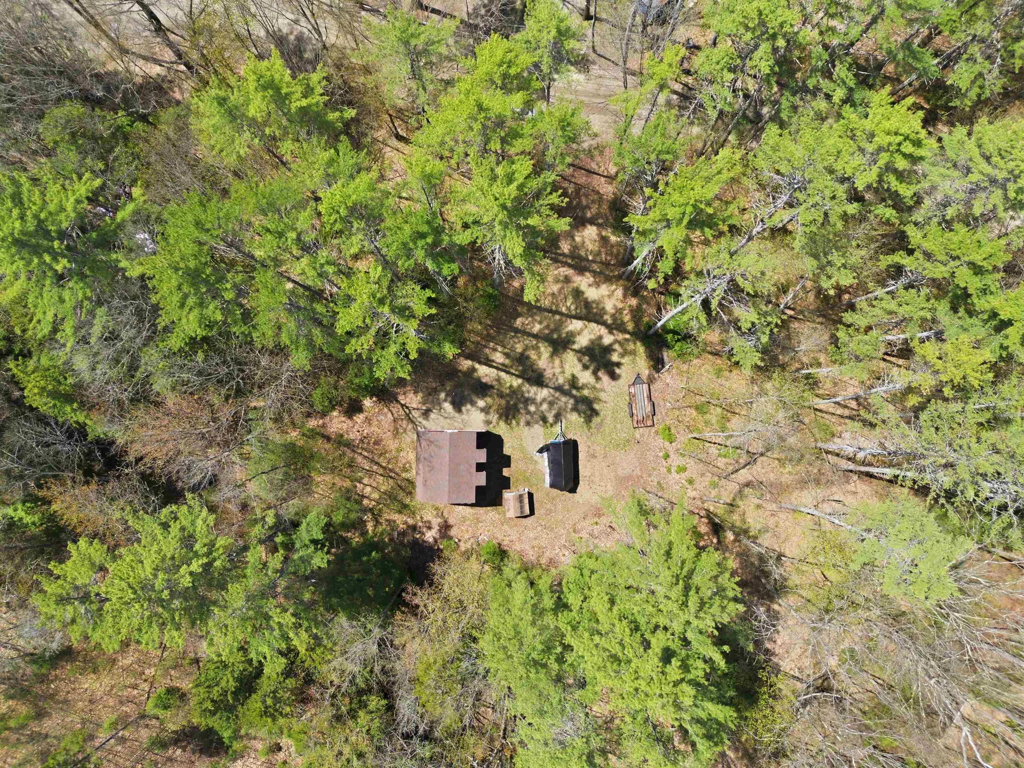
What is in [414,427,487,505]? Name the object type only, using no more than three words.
shed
